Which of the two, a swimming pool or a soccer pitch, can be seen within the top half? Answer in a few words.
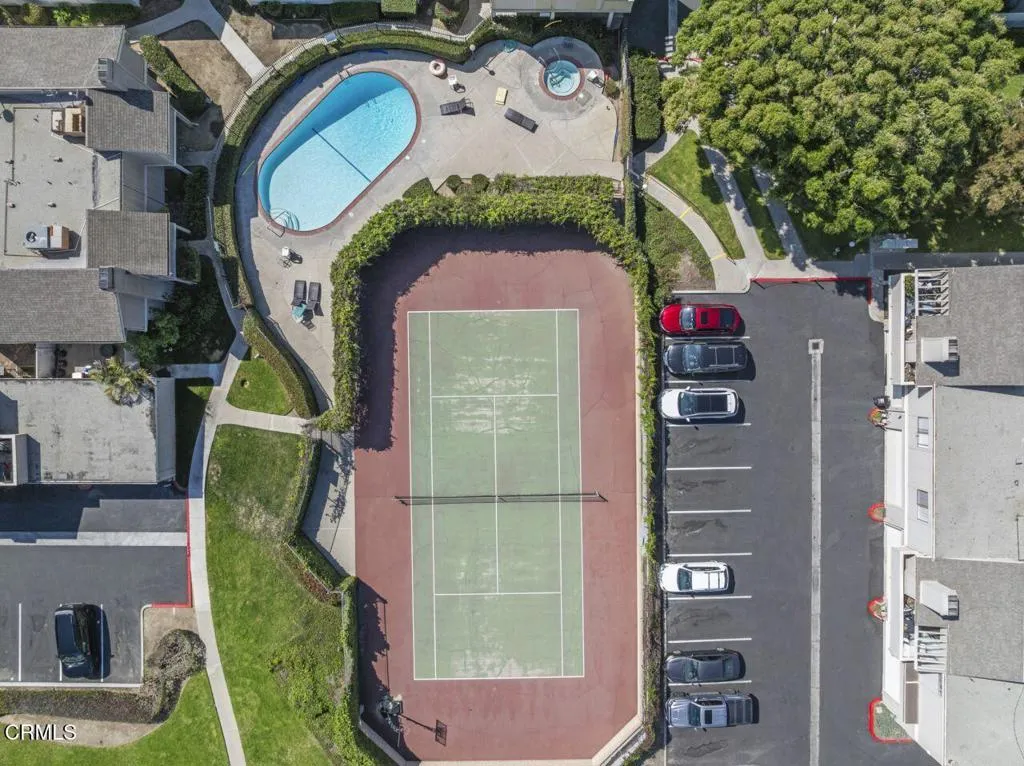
swimming pool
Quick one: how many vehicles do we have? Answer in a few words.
7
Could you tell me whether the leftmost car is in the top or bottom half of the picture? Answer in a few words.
bottom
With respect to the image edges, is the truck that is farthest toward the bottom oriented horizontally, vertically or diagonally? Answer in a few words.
horizontally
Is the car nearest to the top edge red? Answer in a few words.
Yes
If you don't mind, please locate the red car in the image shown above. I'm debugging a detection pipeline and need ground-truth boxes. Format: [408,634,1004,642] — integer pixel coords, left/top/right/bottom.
[657,300,741,337]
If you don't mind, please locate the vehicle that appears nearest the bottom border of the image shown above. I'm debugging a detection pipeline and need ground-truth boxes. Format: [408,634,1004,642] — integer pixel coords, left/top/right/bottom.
[665,690,751,732]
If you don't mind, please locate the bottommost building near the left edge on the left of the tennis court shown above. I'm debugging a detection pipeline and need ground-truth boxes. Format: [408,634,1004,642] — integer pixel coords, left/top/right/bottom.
[0,378,177,497]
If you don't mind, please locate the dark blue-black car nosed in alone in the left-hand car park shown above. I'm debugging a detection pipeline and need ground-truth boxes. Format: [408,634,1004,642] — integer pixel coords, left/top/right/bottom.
[52,603,97,677]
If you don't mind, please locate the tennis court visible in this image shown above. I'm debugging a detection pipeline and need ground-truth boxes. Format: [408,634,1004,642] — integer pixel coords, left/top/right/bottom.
[353,222,645,766]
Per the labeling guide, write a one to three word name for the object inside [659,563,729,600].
car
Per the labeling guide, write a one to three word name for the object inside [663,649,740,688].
car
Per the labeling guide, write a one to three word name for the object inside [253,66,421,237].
swimming pool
